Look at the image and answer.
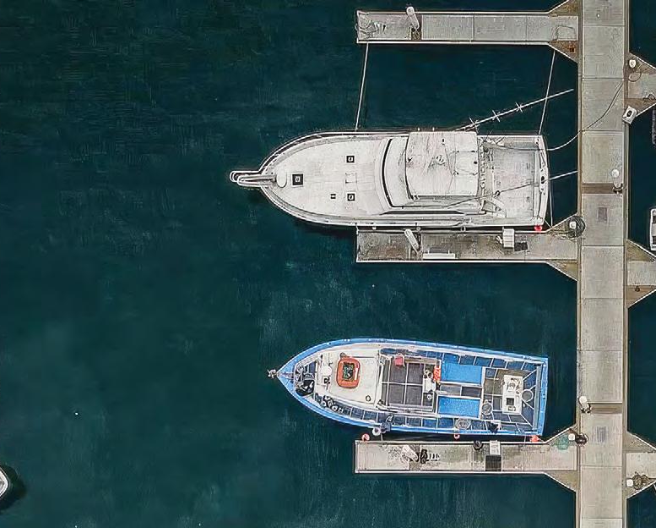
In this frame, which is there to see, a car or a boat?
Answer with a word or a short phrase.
boat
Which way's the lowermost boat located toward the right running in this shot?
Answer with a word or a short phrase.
horizontally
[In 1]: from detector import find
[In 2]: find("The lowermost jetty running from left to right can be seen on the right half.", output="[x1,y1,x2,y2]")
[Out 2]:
[355,425,576,492]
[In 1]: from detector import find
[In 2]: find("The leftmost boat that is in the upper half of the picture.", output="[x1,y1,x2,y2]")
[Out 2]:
[230,88,574,229]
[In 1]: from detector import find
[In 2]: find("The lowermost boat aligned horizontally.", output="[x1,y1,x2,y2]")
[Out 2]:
[267,337,550,435]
